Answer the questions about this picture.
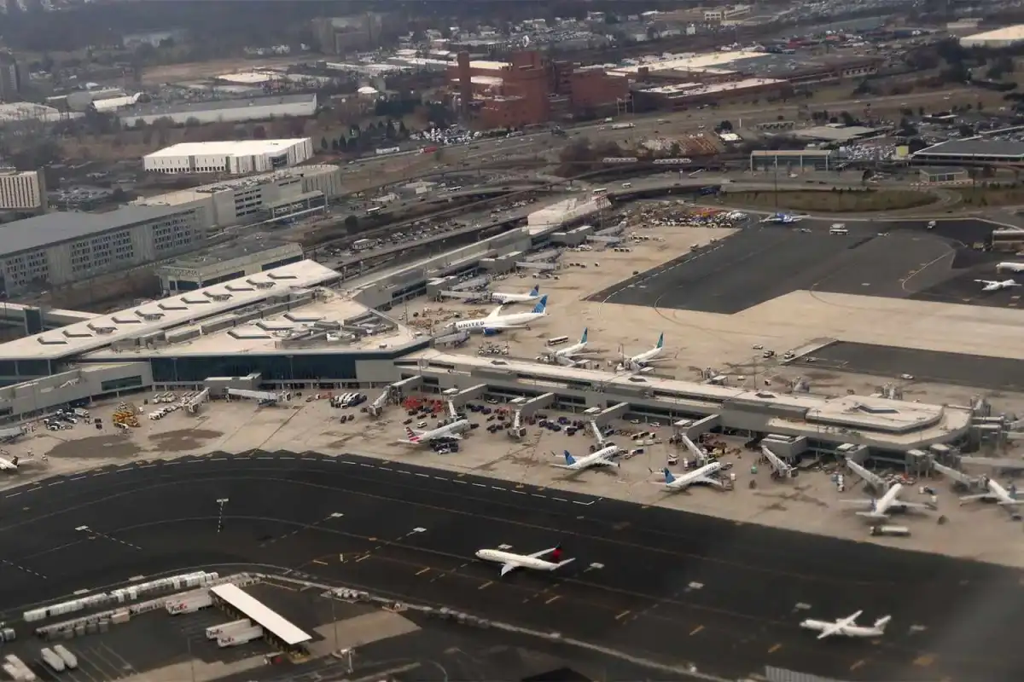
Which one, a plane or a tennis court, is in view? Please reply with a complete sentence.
Of the two, only a plane appears.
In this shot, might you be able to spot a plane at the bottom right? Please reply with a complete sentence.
Yes, you'll find a plane at the bottom right.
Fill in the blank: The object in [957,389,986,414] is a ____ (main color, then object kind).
gray jet bridge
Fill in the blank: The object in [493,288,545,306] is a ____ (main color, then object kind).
white airplane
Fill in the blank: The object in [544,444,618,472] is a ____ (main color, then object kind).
white airplane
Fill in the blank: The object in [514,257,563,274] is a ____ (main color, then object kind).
gray jet bridge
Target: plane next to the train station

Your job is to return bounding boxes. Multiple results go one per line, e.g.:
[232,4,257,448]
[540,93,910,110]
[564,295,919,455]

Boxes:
[755,199,811,226]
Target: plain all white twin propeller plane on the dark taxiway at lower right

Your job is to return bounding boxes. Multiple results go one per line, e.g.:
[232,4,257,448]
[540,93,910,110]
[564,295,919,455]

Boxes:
[800,609,892,641]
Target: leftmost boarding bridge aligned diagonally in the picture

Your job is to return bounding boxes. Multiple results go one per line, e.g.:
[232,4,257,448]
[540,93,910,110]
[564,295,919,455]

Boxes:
[182,390,212,416]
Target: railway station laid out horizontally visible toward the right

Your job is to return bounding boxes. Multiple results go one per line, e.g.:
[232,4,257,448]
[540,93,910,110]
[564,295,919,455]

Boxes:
[750,151,833,174]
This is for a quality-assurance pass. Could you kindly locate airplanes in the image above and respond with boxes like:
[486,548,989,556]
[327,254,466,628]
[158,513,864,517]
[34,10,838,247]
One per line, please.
[493,288,545,306]
[445,297,552,335]
[800,609,892,641]
[399,421,468,444]
[0,455,31,472]
[755,199,811,226]
[646,461,720,490]
[997,264,1024,276]
[616,335,674,371]
[475,540,572,576]
[544,444,618,472]
[967,480,1024,506]
[840,482,929,515]
[982,271,1024,294]
[535,330,596,361]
